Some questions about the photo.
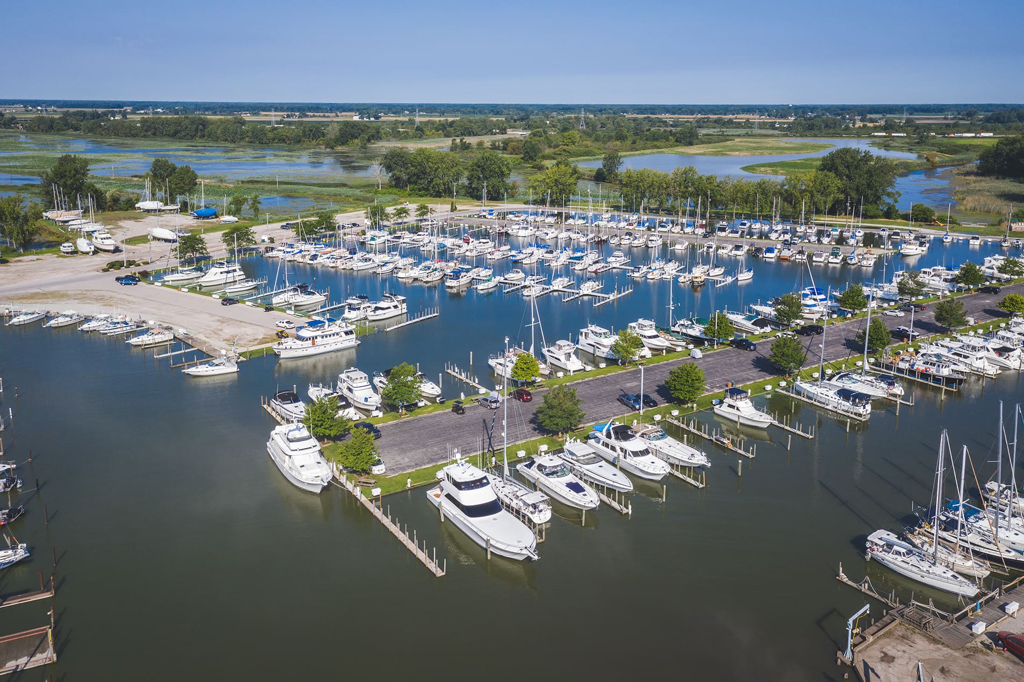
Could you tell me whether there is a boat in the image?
Yes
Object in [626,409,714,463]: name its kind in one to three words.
boat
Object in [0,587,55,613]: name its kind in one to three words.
pier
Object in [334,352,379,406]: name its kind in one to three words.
boat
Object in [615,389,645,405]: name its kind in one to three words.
vehicle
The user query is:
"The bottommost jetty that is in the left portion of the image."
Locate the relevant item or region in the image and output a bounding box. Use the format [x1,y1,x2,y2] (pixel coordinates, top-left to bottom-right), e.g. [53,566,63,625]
[0,626,56,681]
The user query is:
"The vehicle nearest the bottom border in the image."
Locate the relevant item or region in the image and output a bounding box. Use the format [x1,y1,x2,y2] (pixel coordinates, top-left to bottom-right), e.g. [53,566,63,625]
[991,629,1024,652]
